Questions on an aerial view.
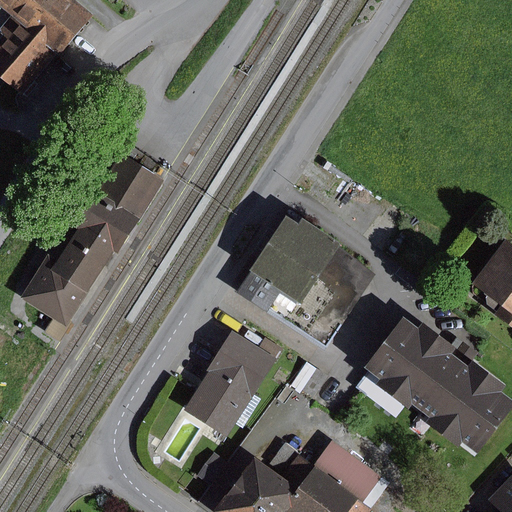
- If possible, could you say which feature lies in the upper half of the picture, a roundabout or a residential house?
residential house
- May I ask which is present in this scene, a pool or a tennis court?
pool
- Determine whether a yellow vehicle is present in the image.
Yes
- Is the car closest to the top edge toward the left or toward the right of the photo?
left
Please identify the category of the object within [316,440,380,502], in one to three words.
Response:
barn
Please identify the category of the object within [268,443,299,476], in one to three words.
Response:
shed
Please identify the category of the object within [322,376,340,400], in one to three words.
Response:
car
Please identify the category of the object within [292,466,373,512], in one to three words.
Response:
house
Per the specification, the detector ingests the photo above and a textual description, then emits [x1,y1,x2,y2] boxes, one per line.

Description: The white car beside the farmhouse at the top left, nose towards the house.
[73,34,97,55]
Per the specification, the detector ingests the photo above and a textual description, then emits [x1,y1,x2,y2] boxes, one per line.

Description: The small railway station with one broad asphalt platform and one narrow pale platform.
[0,0,333,488]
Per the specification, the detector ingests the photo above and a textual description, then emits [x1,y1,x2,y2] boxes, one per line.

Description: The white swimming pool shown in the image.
[155,410,223,469]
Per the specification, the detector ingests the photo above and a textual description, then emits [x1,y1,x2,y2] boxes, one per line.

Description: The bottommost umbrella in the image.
[411,416,432,436]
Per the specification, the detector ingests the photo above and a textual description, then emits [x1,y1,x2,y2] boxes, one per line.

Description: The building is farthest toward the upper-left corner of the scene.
[0,0,92,95]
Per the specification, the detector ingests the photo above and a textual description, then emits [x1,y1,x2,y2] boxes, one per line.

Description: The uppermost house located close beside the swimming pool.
[184,331,278,437]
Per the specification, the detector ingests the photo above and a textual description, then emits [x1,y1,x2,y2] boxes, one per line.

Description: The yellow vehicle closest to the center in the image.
[213,308,244,334]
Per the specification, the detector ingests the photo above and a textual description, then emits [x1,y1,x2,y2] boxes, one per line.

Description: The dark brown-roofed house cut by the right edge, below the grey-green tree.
[474,240,512,326]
